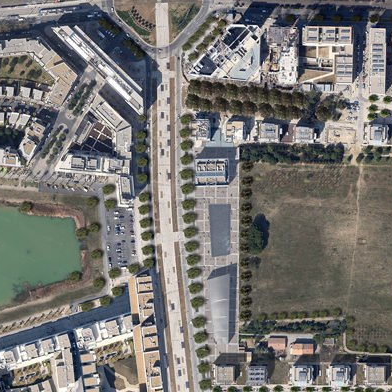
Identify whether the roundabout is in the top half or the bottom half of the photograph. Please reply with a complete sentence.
The roundabout sits in the top half of the picture.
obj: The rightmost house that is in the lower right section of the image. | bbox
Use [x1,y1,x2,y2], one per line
[365,365,386,383]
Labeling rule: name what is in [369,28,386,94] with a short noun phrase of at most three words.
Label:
building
